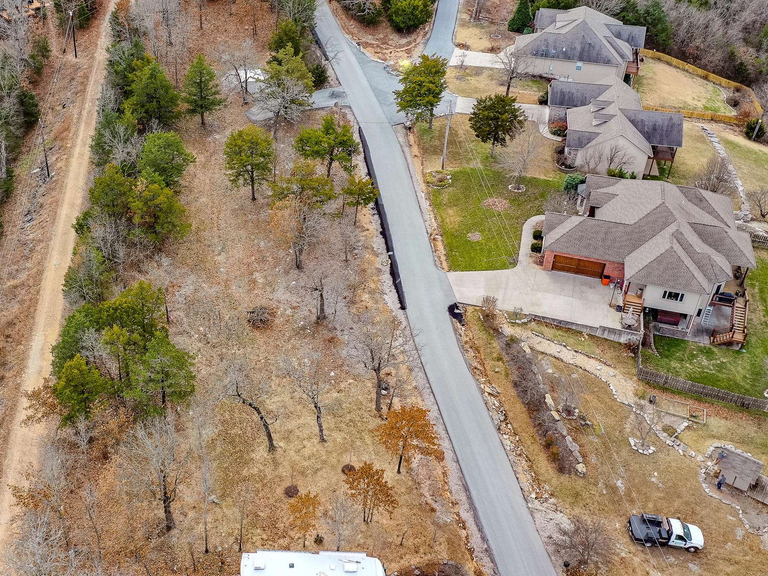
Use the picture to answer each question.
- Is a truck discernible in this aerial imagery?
Yes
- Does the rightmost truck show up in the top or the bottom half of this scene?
bottom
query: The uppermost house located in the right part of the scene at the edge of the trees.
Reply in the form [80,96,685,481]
[514,8,660,92]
